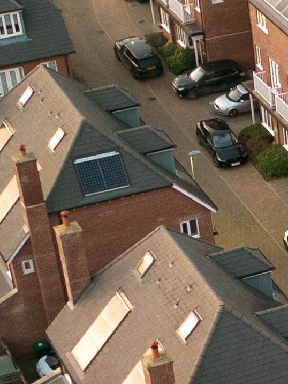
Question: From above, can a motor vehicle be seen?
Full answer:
Yes, this view includes a motor vehicle.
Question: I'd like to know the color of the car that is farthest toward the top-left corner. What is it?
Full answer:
The car that is farthest toward the top-left corner is black.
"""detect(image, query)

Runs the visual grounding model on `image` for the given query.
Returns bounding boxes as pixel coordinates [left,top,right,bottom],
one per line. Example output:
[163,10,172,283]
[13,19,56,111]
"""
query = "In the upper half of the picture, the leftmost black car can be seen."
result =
[114,43,167,79]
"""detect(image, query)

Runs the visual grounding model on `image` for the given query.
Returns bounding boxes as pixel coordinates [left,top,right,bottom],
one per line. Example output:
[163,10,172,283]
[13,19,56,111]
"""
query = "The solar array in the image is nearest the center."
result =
[74,150,135,202]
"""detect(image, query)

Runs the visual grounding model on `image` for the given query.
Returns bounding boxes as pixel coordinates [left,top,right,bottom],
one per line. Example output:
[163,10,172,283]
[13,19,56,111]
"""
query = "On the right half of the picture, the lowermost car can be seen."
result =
[197,119,249,166]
